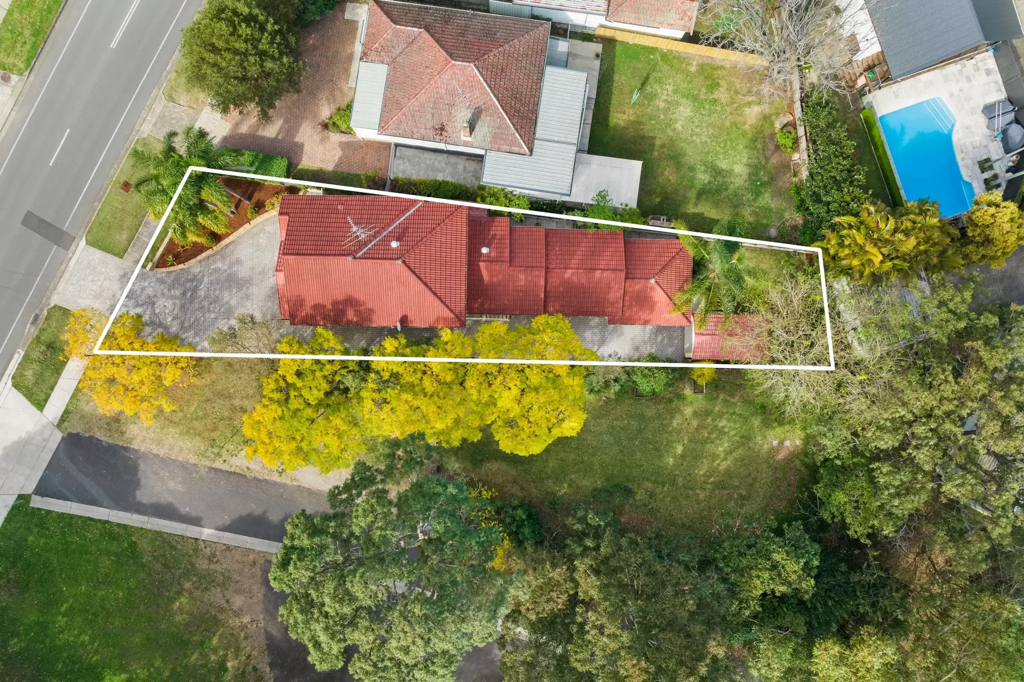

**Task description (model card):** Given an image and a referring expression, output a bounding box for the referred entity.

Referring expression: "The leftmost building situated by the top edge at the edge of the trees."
[349,0,592,200]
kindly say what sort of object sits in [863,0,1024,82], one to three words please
building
